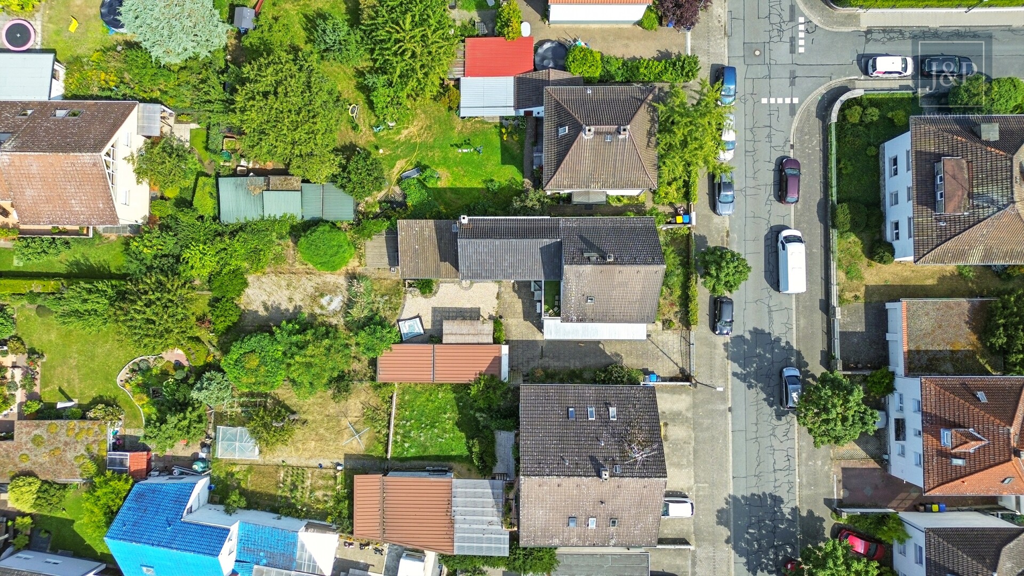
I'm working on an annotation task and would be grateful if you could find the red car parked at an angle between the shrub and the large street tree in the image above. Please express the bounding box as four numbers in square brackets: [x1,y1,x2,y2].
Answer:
[833,525,884,560]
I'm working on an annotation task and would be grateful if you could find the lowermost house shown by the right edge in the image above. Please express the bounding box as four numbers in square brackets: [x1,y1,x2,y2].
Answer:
[895,513,1024,576]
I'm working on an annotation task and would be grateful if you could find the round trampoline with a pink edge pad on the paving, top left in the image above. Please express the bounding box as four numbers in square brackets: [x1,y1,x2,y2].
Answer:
[2,19,39,46]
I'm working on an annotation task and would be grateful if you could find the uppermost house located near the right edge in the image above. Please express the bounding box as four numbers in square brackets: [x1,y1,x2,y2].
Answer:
[883,113,1024,266]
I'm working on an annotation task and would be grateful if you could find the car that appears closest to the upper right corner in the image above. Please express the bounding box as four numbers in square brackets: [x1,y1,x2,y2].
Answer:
[918,54,970,79]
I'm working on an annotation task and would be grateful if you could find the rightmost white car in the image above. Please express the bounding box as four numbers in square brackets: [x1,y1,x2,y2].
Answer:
[865,54,910,79]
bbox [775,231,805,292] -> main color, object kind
white van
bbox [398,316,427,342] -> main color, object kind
white gazebo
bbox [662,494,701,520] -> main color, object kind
white car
